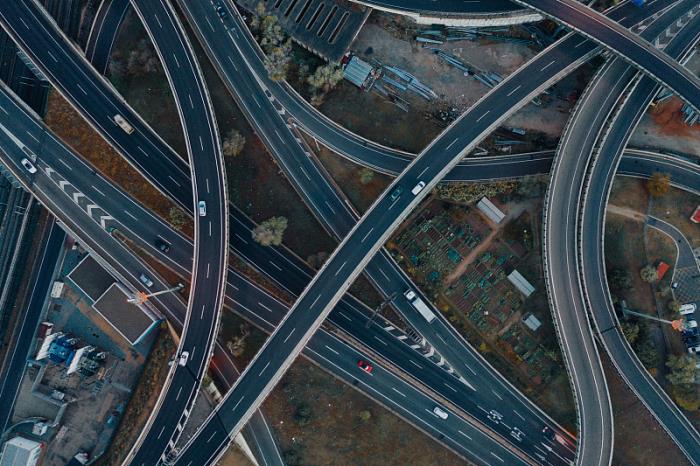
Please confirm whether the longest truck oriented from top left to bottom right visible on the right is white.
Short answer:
Yes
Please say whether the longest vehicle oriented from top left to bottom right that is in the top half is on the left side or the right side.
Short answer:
left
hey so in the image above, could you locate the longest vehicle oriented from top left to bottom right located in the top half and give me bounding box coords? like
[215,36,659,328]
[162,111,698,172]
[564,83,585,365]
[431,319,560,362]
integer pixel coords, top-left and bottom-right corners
[110,113,133,133]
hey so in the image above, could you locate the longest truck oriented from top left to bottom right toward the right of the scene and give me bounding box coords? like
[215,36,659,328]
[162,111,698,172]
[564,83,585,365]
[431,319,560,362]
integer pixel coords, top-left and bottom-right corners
[405,289,438,323]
